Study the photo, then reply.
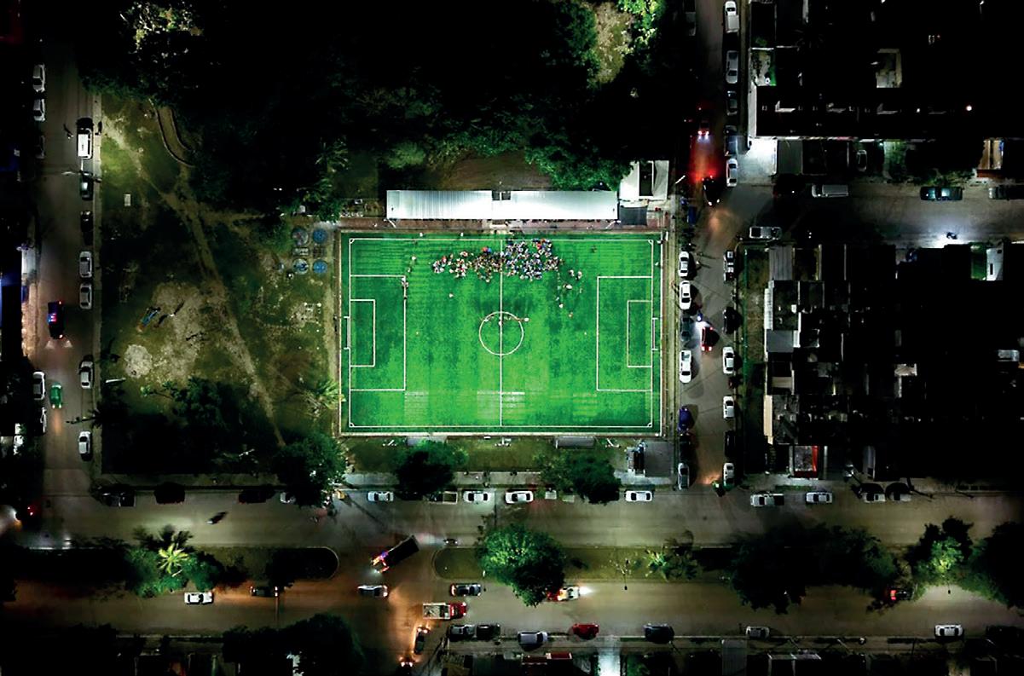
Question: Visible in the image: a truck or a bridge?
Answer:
truck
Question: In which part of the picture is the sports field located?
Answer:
center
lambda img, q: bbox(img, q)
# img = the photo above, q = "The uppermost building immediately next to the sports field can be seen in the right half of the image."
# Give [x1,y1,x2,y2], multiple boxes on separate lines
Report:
[620,159,668,204]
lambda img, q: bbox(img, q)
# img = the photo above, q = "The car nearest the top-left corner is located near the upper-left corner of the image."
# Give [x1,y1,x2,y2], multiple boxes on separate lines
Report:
[31,64,48,92]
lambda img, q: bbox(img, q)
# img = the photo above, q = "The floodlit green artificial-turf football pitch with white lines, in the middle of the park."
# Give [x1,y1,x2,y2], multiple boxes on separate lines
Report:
[336,228,666,438]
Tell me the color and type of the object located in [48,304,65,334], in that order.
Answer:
black vehicle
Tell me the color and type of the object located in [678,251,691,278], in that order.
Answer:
white vehicle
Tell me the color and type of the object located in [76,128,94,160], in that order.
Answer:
white vehicle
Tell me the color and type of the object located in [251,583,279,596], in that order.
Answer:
black vehicle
